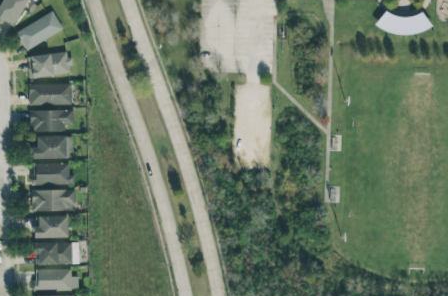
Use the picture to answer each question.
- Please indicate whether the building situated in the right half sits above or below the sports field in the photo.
above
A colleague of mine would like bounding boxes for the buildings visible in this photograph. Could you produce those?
[376,10,435,34]
[0,0,28,27]
[30,110,74,132]
[32,190,76,212]
[34,136,73,158]
[18,10,63,52]
[34,216,68,239]
[30,83,72,105]
[37,242,80,265]
[34,270,79,291]
[32,163,74,186]
[30,52,72,78]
